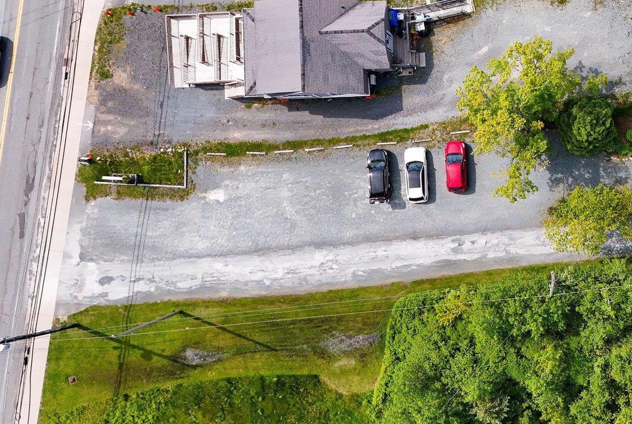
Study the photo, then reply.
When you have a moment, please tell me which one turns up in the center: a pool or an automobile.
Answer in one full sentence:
You can see an automobile in the center.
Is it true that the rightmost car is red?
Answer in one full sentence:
Yes, red is the color of the rightmost car.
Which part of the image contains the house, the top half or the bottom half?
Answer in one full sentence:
The house is in the top half of the image.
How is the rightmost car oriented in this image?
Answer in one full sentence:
The rightmost car runs up and down in the image.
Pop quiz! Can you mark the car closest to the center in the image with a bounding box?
[365,148,393,204]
